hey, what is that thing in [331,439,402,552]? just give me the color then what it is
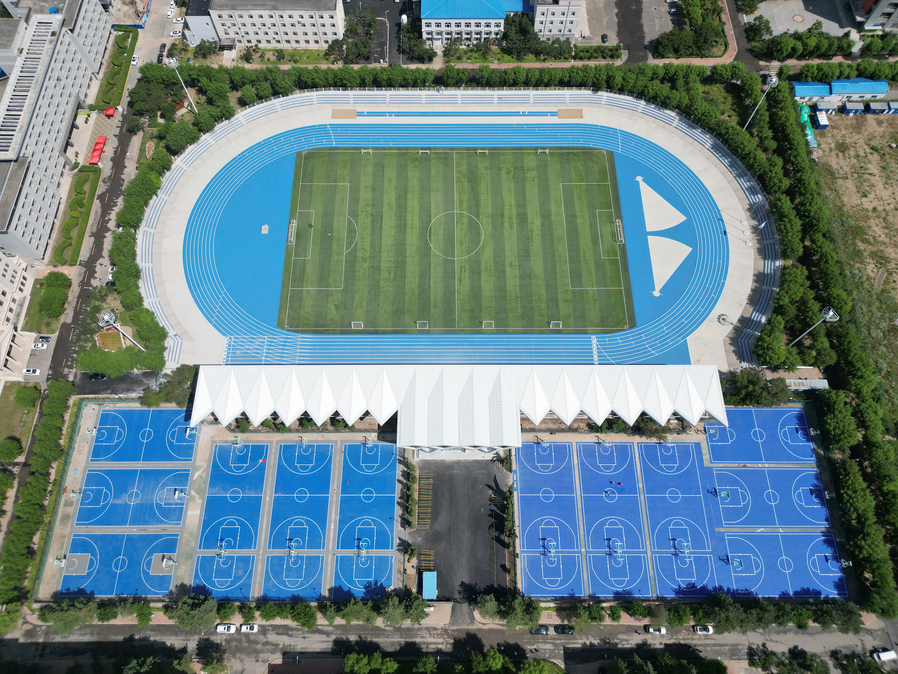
blue basketball court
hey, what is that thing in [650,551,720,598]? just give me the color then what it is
blue basketball court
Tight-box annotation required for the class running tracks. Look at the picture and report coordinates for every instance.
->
[182,124,729,365]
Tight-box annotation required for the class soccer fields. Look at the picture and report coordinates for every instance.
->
[277,147,636,334]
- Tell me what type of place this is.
sports ground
